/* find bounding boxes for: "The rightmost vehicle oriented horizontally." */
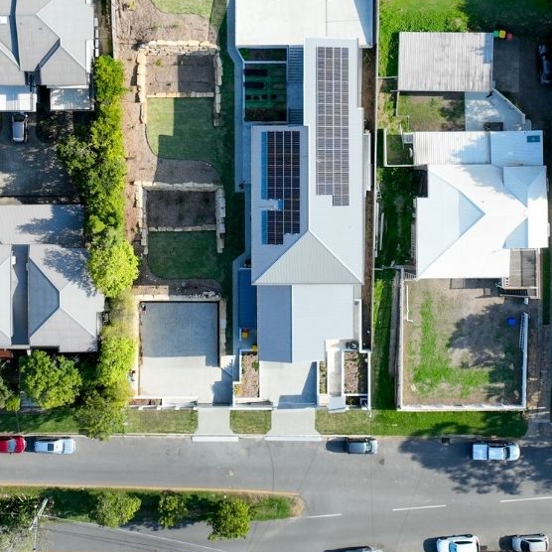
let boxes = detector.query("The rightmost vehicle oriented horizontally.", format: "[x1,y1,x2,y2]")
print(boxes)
[511,534,552,552]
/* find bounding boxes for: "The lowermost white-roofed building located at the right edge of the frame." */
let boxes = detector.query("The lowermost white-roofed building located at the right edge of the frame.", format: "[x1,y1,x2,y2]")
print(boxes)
[403,129,550,296]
